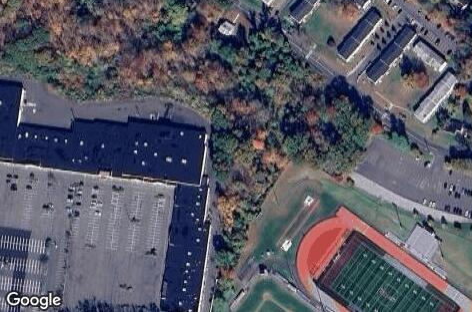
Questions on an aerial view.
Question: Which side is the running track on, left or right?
right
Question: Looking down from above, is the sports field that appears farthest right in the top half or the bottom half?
bottom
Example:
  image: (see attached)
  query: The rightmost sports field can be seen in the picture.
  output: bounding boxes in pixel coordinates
[314,230,455,312]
